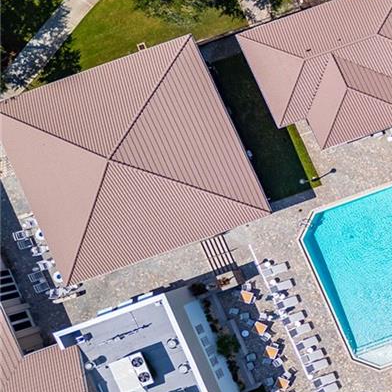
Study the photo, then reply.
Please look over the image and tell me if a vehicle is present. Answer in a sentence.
No, the frame has no vehicle in it.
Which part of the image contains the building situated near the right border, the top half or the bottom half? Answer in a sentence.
The building situated near the right border sits in the top half of the picture.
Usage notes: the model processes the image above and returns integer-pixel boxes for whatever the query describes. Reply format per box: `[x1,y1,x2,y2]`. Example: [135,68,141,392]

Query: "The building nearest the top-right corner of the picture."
[236,0,392,149]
